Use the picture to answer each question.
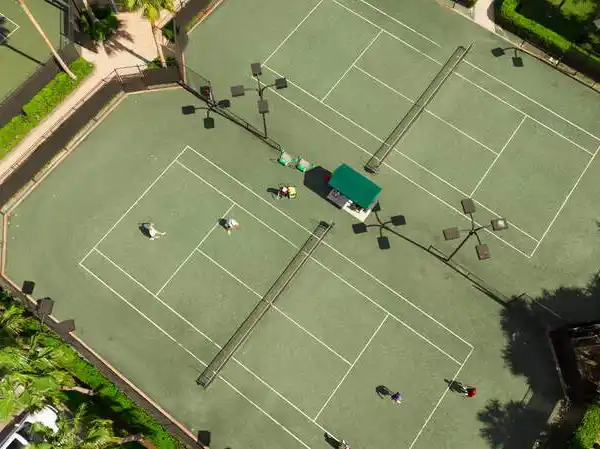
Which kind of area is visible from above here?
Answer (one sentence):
The area seen from above is a sports ground.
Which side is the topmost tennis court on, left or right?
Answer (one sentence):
The topmost tennis court is on the left side of the image.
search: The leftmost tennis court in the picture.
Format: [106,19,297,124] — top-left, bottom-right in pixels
[0,0,78,98]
